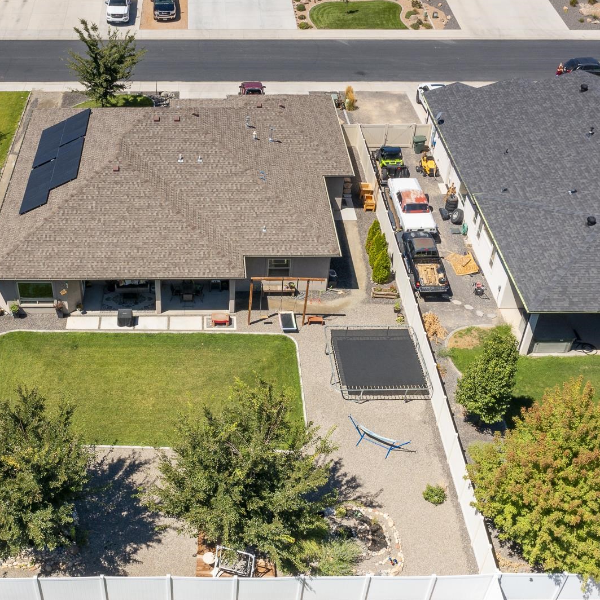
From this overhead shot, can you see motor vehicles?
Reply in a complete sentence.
Yes, this view includes a motor vehicle.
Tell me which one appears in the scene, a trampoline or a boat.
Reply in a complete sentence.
Of the two, only a trampoline appears.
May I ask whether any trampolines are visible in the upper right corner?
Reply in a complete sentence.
No, no trampoline is visible in the upper right corner.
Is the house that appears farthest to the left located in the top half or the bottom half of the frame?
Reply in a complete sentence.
The top half of the photo is where the house that appears farthest to the left is.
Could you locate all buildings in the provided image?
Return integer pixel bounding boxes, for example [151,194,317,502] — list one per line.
[428,65,600,353]
[0,91,357,314]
